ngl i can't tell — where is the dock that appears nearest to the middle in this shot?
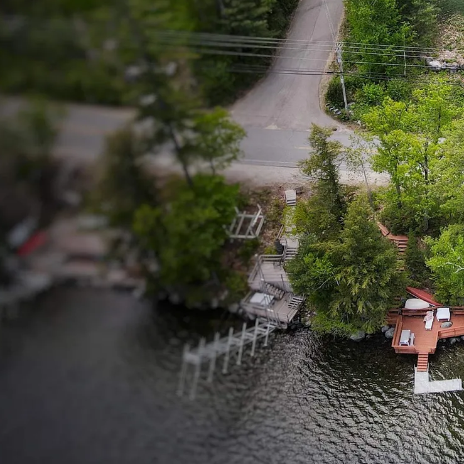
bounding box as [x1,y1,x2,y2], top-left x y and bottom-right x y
[184,314,273,366]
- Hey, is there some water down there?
Yes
